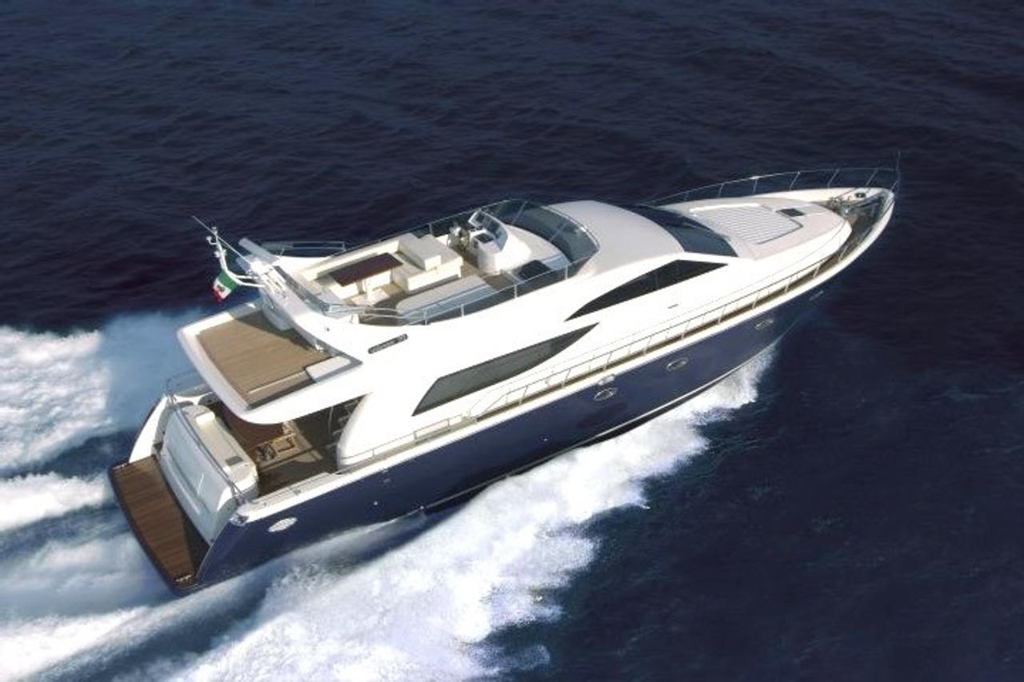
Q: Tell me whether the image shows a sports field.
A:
No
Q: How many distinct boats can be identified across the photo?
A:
one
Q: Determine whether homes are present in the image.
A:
No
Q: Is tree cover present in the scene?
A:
No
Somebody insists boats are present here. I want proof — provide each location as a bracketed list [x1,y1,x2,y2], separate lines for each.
[113,150,905,600]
